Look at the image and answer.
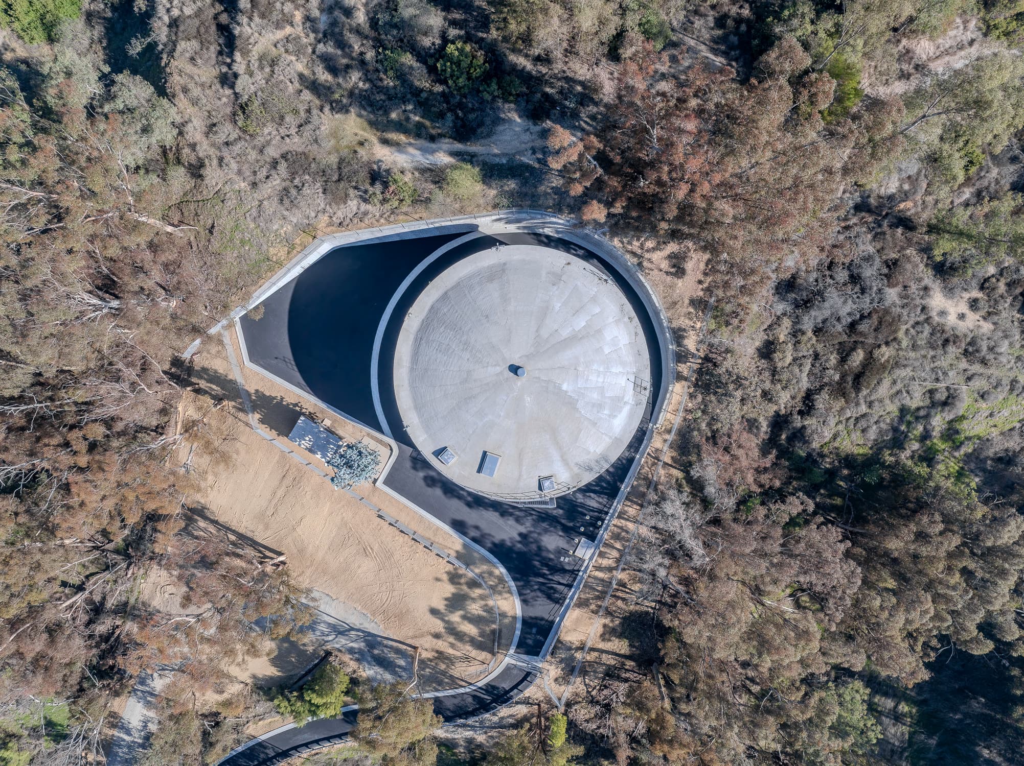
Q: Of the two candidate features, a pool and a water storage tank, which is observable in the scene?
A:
water storage tank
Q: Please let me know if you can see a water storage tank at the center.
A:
Yes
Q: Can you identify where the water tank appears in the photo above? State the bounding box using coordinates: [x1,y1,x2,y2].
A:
[393,244,652,511]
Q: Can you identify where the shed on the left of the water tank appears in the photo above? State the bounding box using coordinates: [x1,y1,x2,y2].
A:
[287,415,344,462]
